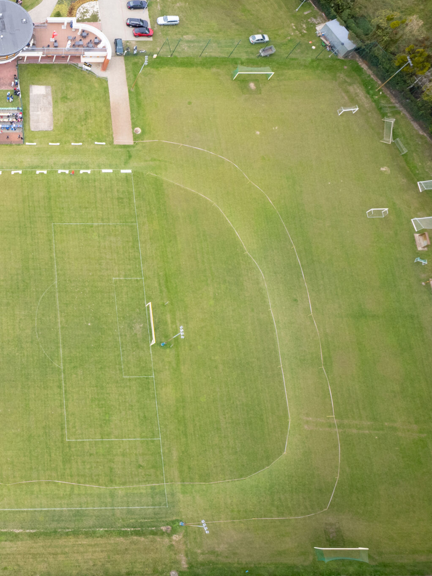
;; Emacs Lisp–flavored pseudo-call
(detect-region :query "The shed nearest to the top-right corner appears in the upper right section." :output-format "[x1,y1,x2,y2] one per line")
[316,22,358,62]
